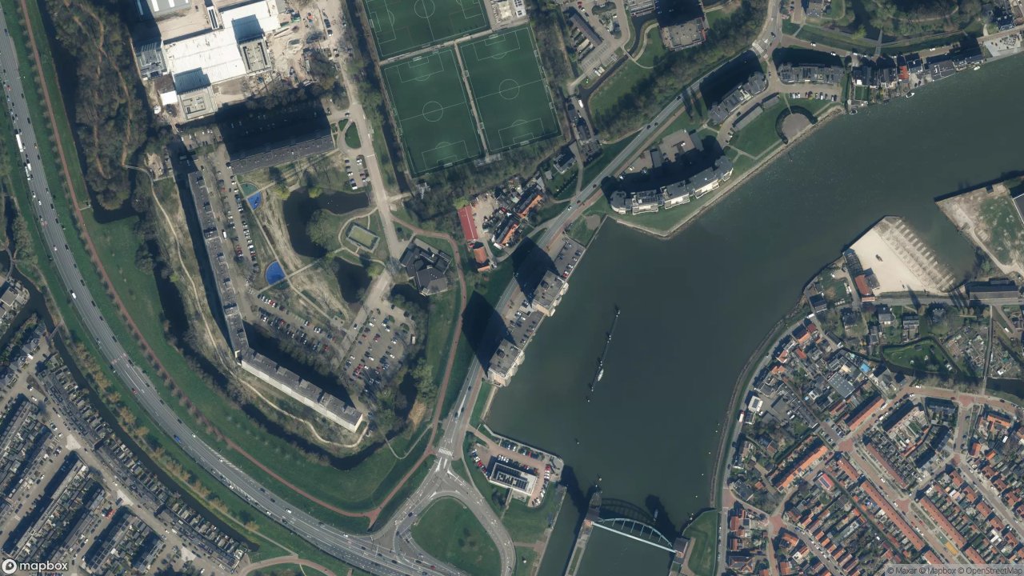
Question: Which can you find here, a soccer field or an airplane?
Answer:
soccer field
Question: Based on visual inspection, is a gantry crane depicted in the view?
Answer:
No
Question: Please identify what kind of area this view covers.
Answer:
residential area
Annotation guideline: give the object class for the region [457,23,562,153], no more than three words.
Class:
soccer field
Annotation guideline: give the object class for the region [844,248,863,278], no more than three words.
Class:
building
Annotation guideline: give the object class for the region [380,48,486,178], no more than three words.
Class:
soccer field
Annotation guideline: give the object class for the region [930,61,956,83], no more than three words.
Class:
house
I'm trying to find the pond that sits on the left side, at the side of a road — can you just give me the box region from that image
[283,189,371,304]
